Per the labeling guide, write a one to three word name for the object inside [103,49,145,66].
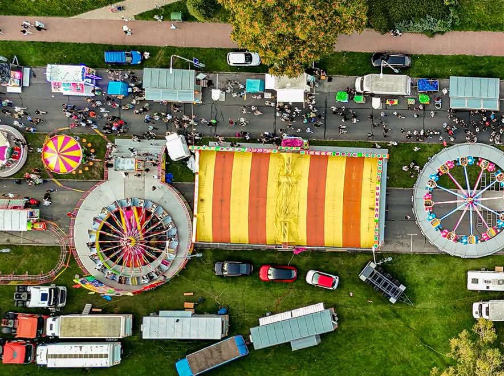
car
